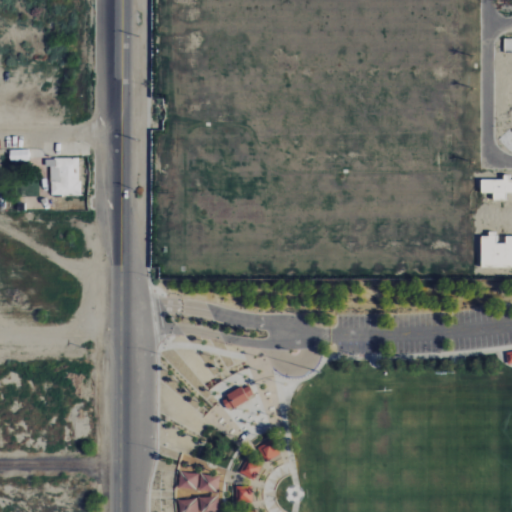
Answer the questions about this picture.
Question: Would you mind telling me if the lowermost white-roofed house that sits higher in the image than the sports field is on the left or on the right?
right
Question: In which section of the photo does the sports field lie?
bottom right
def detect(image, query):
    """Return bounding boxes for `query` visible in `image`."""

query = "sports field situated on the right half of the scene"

[290,349,512,512]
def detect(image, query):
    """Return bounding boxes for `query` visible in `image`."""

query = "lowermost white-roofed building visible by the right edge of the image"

[480,231,512,268]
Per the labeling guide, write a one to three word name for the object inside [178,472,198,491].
building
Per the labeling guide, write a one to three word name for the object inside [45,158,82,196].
building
